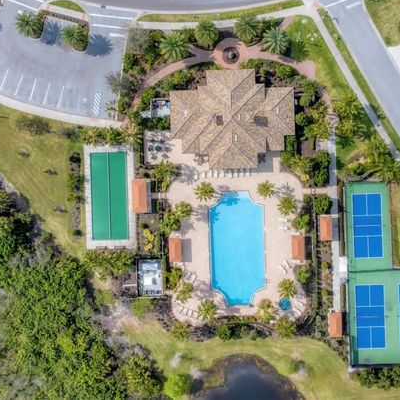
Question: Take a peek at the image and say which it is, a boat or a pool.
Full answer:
The image shows a pool.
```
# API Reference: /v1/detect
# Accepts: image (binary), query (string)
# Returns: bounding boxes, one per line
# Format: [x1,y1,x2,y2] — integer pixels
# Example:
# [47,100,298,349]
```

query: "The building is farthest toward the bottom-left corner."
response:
[167,237,182,263]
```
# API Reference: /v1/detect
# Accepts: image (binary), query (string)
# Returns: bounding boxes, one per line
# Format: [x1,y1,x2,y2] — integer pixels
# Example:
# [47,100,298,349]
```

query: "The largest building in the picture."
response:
[169,69,294,169]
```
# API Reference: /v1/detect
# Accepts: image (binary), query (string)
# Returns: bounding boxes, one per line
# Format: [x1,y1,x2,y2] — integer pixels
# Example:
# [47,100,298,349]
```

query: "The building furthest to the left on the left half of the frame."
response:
[131,178,149,214]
